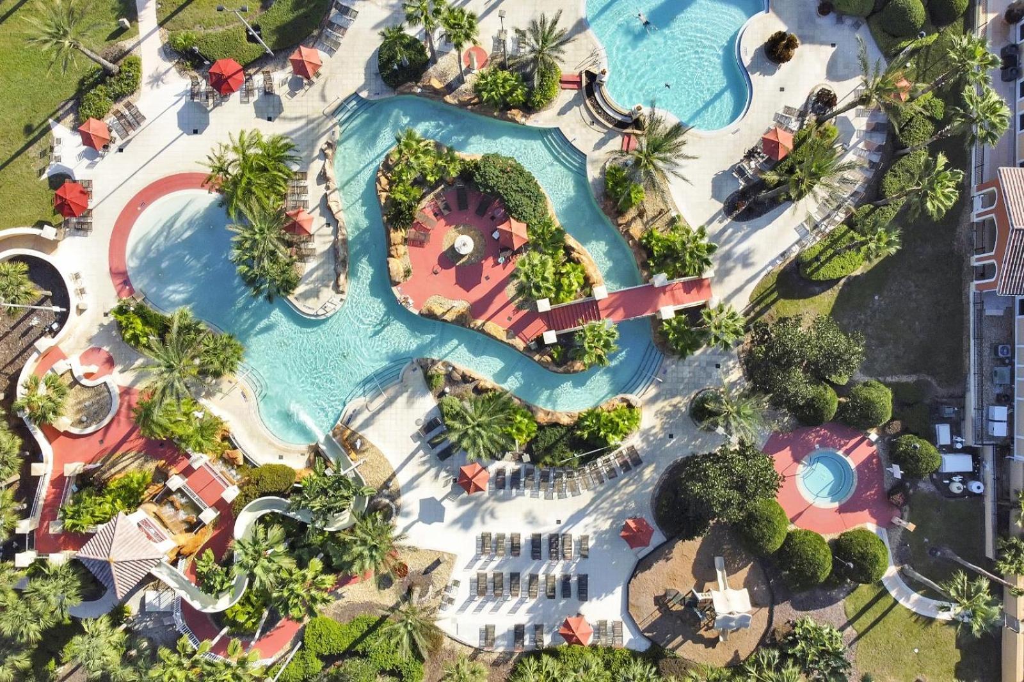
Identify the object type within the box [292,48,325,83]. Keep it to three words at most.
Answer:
umbrella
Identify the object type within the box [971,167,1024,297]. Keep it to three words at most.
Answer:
building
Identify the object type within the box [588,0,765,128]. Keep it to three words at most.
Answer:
swimming pool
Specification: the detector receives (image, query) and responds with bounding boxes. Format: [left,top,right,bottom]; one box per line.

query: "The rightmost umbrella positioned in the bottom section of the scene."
[619,514,652,547]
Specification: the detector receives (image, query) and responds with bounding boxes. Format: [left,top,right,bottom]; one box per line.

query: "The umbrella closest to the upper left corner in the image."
[82,120,118,152]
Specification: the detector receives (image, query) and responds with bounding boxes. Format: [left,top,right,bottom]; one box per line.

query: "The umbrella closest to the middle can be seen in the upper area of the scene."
[499,219,528,252]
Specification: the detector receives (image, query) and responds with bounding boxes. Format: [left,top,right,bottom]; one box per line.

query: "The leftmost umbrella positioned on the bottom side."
[459,459,489,494]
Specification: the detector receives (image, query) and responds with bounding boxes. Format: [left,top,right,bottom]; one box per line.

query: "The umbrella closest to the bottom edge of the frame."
[557,611,592,643]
